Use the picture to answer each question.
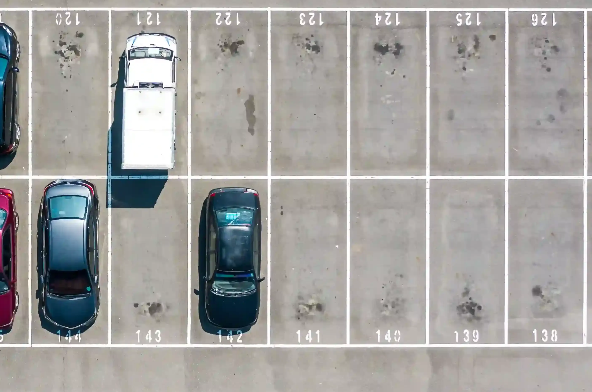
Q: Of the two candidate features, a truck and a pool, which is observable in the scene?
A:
truck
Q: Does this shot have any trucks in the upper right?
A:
No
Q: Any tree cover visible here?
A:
No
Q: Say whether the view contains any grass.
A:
No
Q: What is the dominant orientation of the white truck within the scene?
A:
from top to bottom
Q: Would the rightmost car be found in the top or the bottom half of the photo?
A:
bottom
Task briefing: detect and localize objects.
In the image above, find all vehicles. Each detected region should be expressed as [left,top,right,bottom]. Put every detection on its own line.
[115,32,184,171]
[36,179,101,327]
[0,25,24,156]
[0,189,20,327]
[201,187,267,327]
